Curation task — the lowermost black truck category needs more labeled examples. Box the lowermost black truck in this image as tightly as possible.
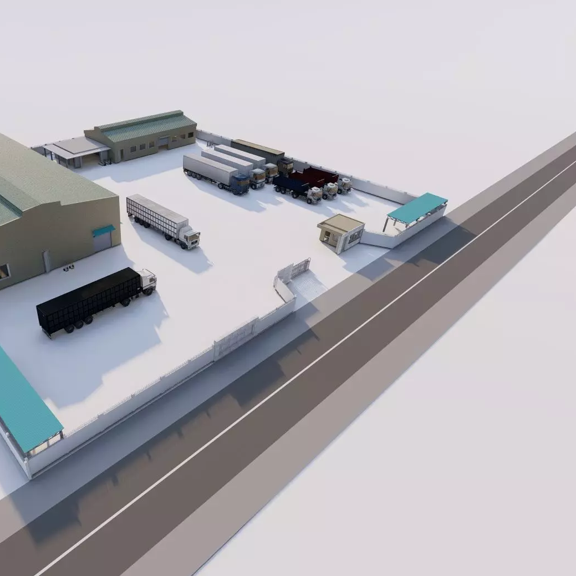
[36,267,158,339]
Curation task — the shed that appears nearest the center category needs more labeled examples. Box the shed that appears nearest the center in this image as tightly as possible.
[314,214,365,255]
